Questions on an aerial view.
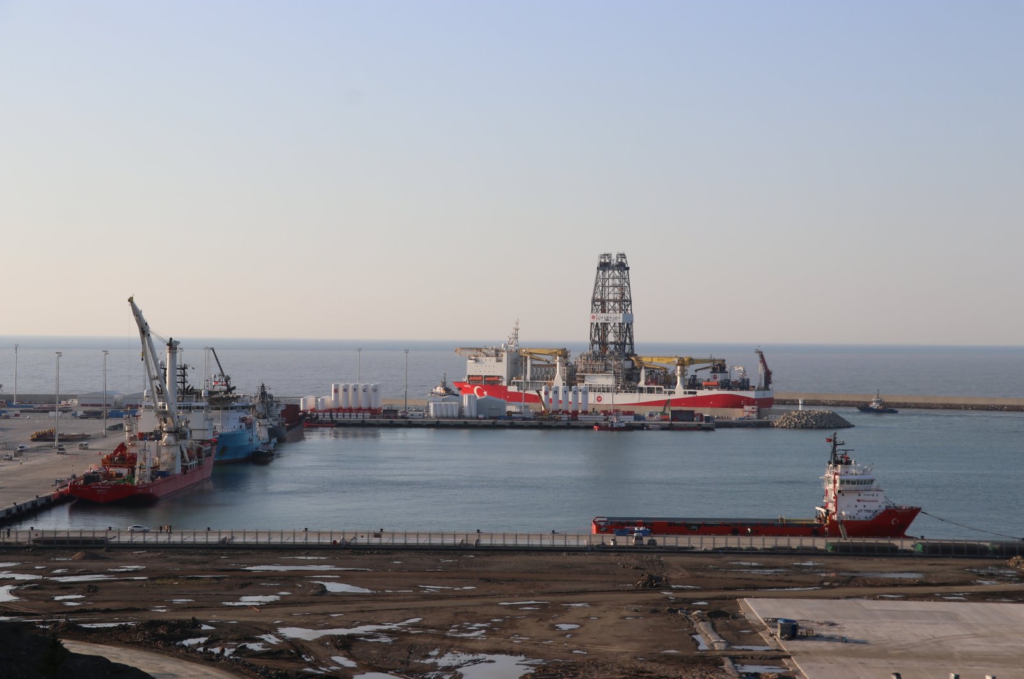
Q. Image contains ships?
Yes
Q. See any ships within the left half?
Yes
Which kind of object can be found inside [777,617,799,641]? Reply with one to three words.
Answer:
shed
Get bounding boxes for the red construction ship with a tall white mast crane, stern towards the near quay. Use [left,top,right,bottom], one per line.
[72,294,218,500]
